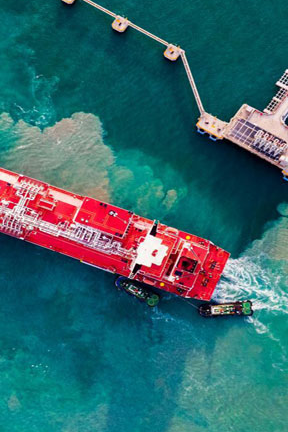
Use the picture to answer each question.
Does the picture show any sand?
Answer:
No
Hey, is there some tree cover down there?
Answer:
No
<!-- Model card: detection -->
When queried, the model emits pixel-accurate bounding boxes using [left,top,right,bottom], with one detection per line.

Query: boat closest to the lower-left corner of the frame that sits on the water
[115,278,157,307]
